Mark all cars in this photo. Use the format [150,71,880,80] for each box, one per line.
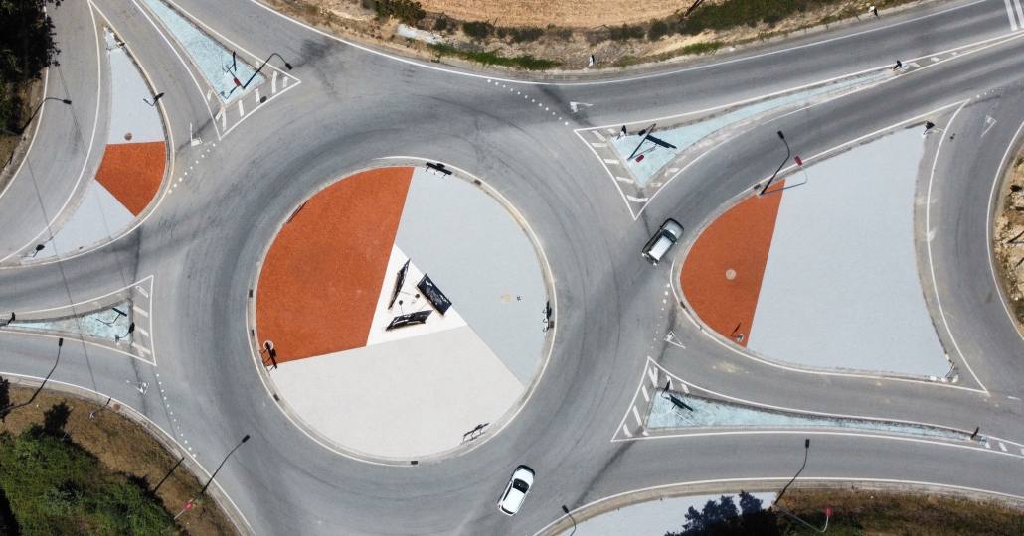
[498,469,534,521]
[642,219,687,267]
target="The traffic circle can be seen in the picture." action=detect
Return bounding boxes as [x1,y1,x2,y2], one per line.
[157,65,646,536]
